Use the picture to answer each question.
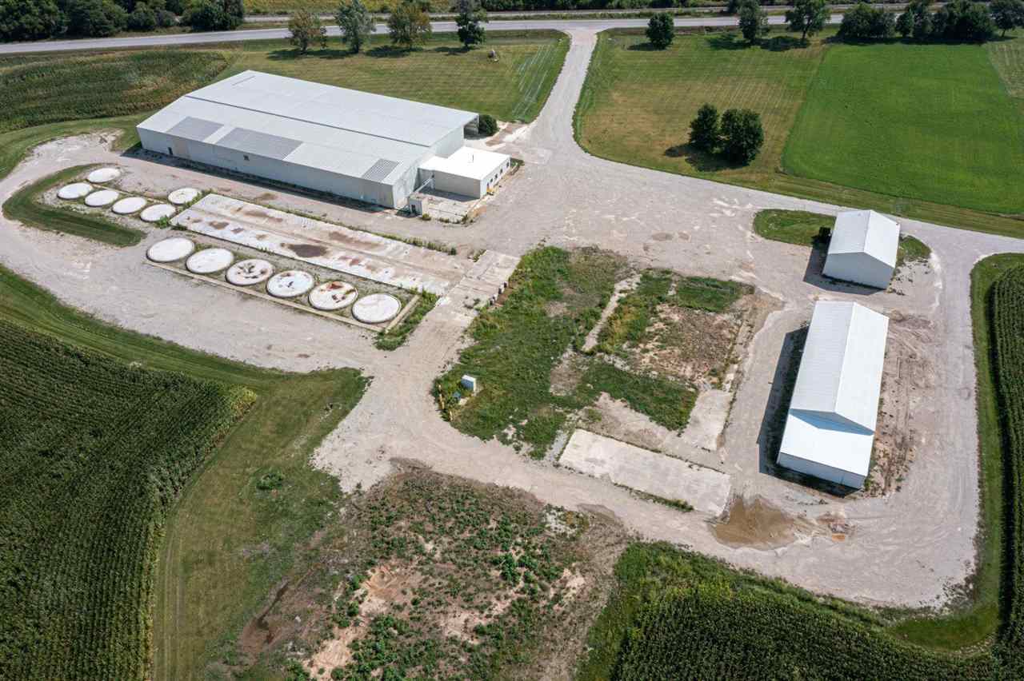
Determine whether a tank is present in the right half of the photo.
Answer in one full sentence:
No, no tank is visible in the right half of the photo.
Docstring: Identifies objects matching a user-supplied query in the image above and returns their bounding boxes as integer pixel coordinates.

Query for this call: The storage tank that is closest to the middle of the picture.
[352,294,401,326]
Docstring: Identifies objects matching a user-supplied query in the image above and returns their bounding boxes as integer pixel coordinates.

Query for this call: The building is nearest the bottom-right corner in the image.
[776,300,889,489]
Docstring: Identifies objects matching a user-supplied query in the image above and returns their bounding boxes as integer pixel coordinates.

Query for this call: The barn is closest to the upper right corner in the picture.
[822,209,900,289]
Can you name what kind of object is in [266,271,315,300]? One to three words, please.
storage tank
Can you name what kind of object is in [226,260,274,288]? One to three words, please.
storage tank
